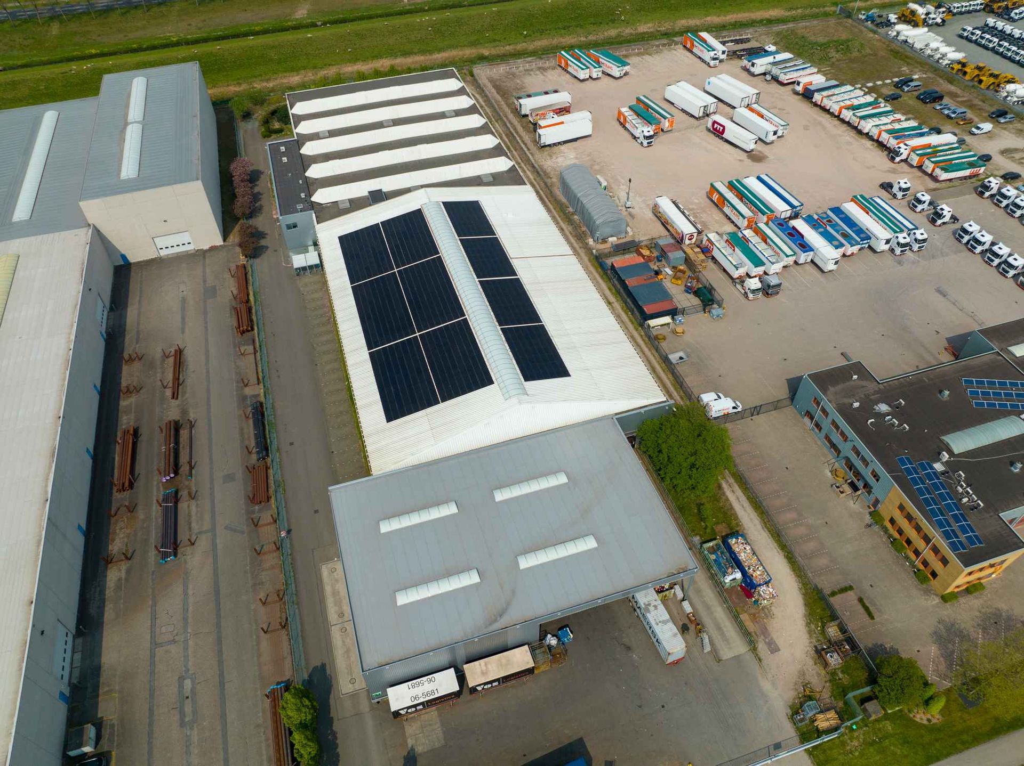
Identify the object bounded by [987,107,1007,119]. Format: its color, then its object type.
black vehicle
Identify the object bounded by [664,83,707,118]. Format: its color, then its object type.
white trailer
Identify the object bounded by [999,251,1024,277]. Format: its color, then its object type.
white truck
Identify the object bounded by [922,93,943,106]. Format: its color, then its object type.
black vehicle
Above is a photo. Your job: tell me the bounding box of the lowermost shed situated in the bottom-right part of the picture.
[858,696,888,724]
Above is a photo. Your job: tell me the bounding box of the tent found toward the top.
[563,166,624,239]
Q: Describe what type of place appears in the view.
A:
industrial area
